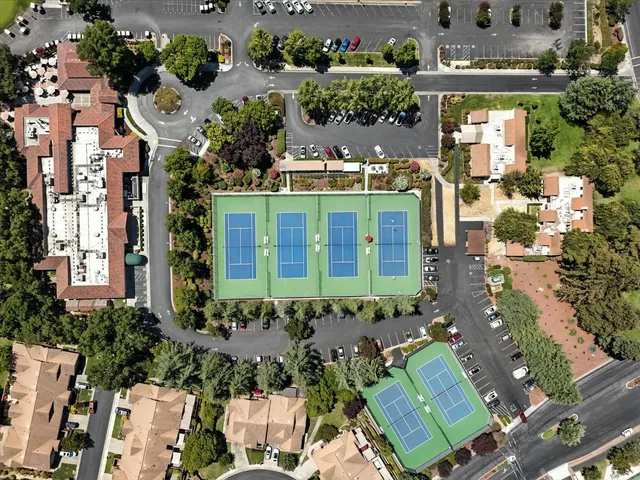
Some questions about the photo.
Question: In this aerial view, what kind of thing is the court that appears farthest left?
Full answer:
Looking closely, the court that appears farthest left is a tennis court.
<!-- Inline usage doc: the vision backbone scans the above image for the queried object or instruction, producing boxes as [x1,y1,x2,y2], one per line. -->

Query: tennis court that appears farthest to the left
[213,194,266,299]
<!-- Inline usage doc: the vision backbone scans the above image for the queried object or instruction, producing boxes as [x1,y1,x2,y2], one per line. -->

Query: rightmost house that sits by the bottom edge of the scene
[312,430,381,480]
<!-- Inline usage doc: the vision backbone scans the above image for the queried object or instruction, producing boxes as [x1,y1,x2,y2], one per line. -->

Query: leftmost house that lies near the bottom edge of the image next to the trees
[0,340,83,475]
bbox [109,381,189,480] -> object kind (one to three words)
house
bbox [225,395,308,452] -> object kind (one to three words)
house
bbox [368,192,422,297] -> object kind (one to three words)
tennis court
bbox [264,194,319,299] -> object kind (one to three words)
tennis court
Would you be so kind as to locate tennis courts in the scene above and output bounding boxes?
[316,193,370,298]
[368,192,422,297]
[264,194,319,299]
[213,194,266,299]
[364,368,451,471]
[406,342,490,450]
